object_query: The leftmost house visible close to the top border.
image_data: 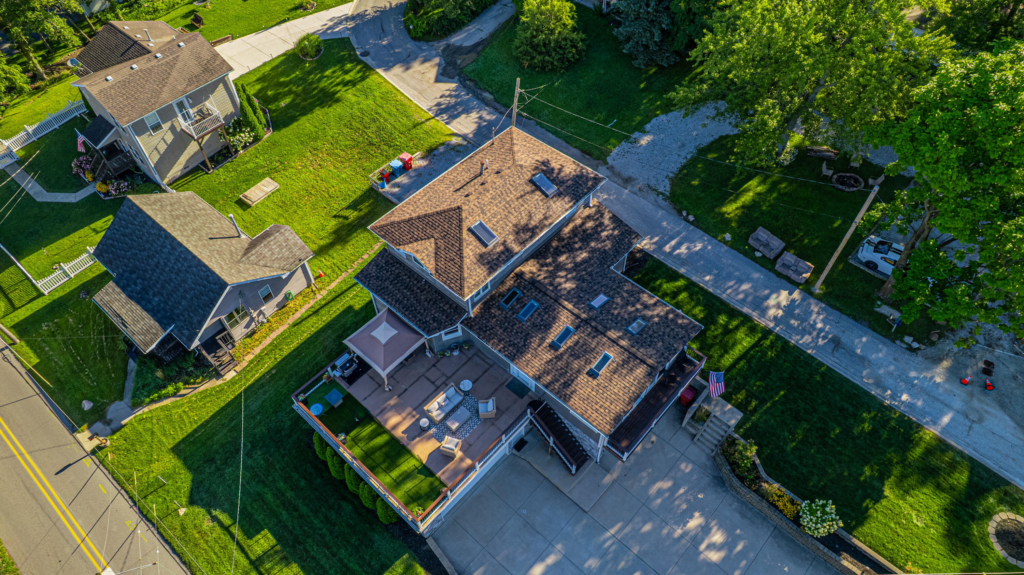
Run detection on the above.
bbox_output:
[71,19,248,193]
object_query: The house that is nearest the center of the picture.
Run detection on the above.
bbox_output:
[352,124,704,469]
